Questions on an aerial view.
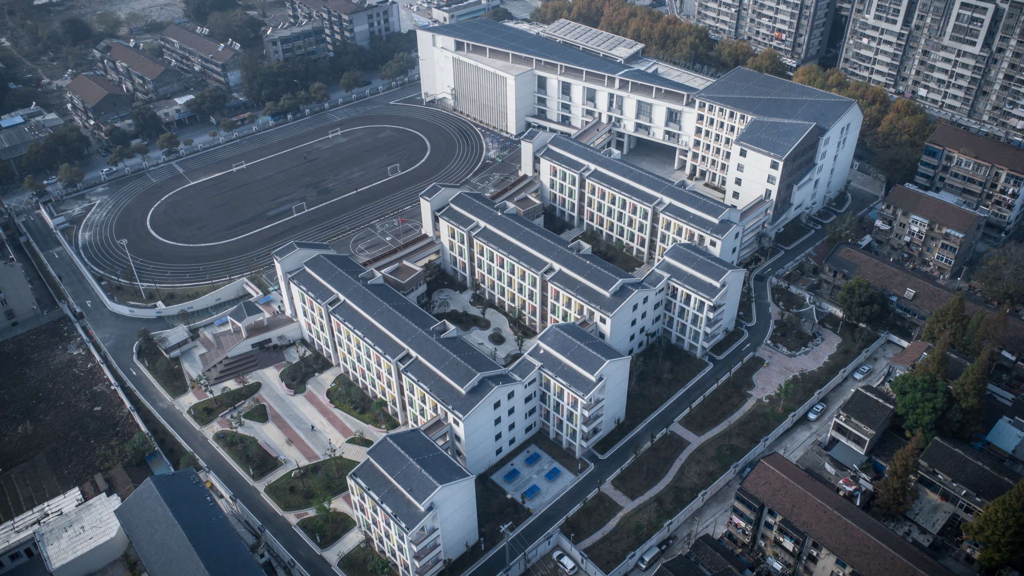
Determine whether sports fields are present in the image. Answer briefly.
Yes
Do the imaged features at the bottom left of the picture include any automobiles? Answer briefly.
No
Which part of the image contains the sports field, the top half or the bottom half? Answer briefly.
top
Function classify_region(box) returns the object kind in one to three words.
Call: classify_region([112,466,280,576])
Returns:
house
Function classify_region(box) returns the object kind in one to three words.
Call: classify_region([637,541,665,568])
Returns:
vehicle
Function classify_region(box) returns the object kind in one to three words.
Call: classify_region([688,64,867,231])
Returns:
building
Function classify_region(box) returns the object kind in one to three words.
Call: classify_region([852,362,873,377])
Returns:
car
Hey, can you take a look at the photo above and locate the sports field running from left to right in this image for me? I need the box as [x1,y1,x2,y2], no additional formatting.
[44,78,528,292]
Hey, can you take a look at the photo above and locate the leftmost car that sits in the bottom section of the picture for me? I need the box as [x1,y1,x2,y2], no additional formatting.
[550,548,577,575]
